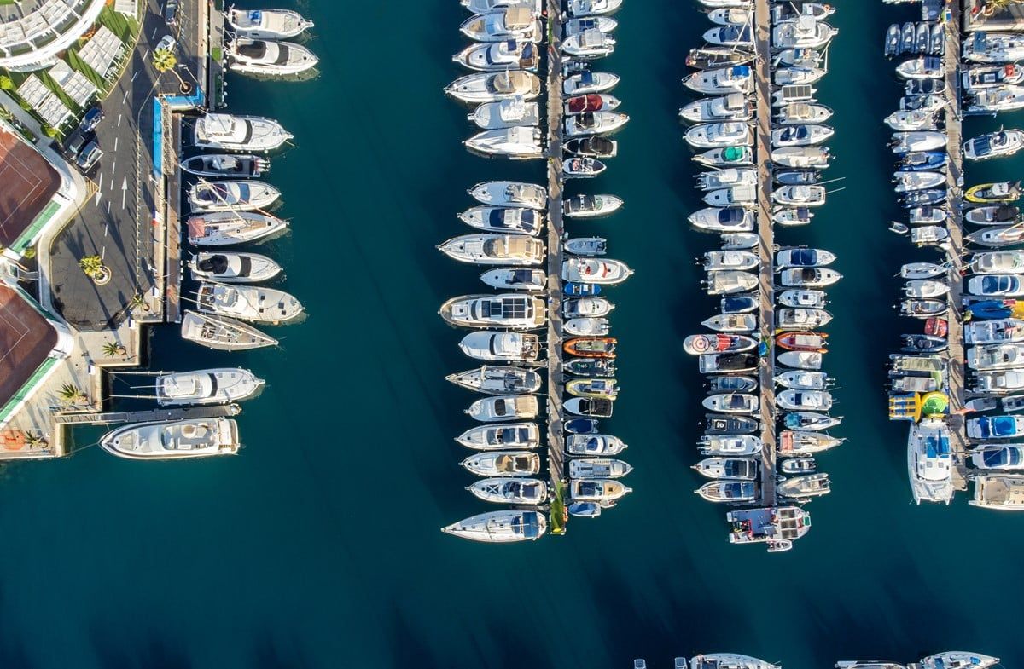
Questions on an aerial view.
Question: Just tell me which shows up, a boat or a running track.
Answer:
boat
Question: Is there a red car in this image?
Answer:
No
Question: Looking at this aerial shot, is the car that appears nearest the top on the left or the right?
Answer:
left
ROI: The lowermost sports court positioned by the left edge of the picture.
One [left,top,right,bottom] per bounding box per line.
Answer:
[0,281,82,444]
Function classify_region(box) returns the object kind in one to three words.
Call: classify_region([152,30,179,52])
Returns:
car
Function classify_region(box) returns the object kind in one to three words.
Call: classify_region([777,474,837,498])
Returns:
boat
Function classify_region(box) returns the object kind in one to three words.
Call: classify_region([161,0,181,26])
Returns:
car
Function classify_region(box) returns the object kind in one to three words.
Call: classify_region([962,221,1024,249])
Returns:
boat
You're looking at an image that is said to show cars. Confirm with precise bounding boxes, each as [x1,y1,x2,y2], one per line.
[75,139,106,169]
[161,0,181,26]
[152,30,179,52]
[75,105,106,129]
[61,125,94,156]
